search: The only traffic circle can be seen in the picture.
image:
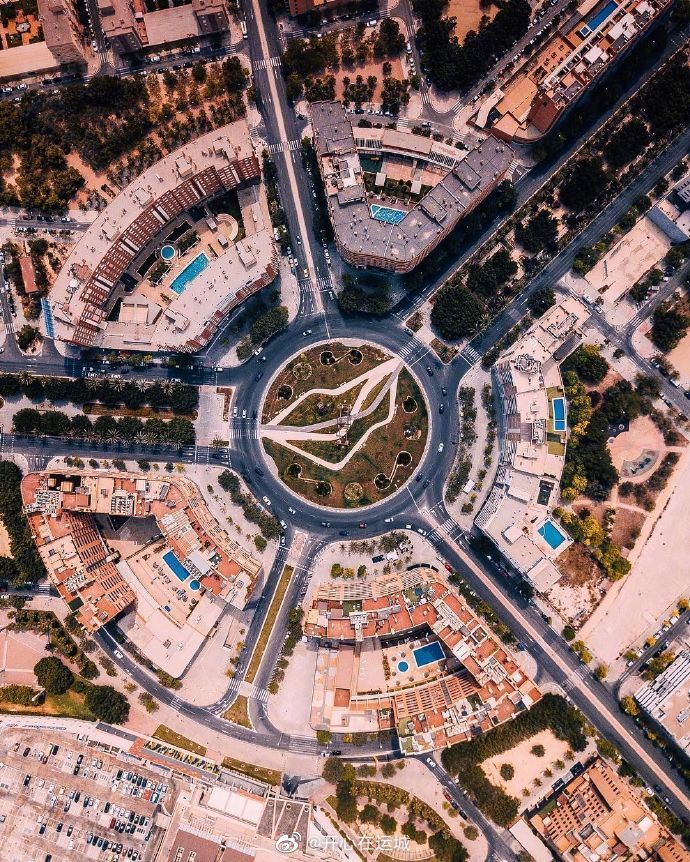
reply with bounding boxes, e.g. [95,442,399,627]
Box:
[230,310,460,540]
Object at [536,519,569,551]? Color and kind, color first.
blue swimming pool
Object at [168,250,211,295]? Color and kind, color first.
blue swimming pool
